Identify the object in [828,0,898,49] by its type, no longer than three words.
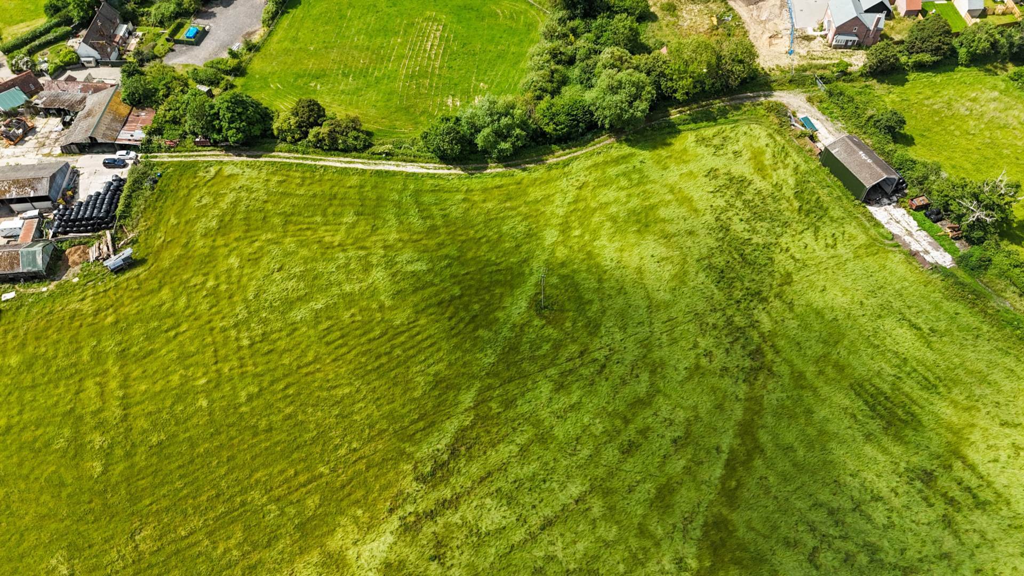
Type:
house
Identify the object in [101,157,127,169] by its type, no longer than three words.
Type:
vehicle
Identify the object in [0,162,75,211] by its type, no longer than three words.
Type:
barn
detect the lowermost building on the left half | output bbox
[0,237,61,282]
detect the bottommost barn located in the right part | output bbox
[822,135,903,197]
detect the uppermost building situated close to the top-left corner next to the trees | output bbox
[76,0,134,68]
